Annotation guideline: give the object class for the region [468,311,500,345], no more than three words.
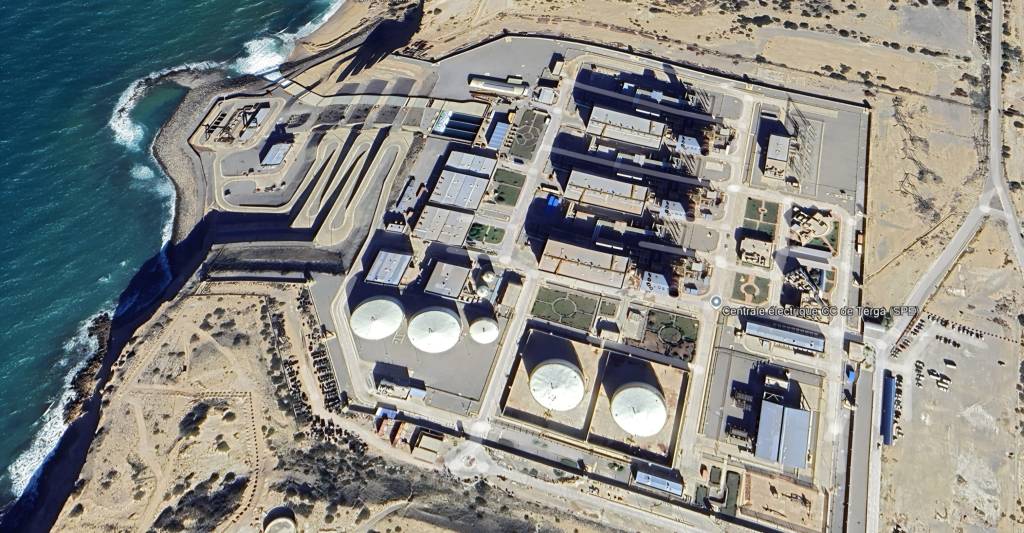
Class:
storage tank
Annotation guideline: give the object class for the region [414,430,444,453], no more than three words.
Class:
building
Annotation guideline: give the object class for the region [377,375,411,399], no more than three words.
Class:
shed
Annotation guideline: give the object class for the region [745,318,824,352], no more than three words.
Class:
building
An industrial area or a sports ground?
industrial area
